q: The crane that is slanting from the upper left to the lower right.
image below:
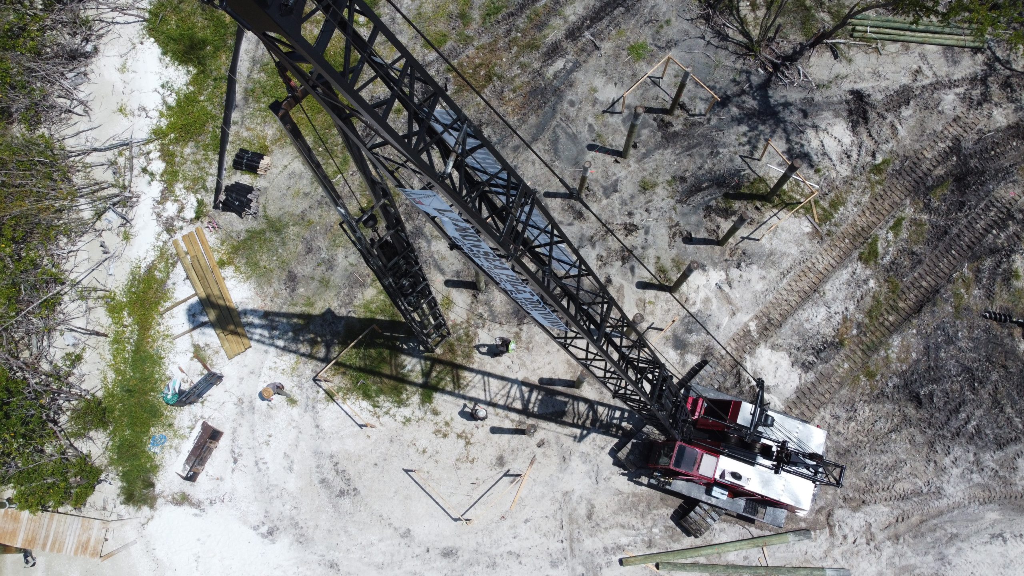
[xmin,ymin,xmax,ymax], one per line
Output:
[222,0,847,540]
